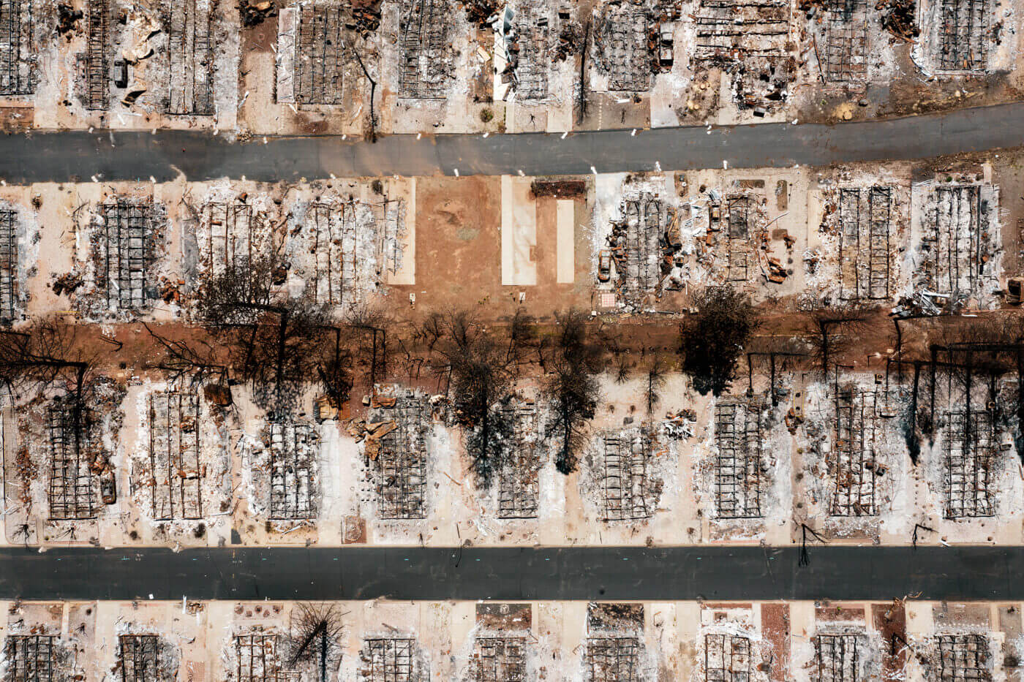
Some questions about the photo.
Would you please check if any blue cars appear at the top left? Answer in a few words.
No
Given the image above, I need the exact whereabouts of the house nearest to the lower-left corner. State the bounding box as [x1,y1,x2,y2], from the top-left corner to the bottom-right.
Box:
[5,634,64,682]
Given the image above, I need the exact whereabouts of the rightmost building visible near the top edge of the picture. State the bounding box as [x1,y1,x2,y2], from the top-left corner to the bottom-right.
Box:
[938,0,989,73]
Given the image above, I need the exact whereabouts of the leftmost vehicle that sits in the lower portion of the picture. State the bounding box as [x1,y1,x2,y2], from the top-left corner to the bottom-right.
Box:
[98,472,115,504]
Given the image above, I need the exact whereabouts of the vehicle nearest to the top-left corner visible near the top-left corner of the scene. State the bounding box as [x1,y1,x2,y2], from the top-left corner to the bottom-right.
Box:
[110,58,127,86]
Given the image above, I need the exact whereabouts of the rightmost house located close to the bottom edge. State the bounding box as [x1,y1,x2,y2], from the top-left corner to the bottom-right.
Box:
[927,633,988,682]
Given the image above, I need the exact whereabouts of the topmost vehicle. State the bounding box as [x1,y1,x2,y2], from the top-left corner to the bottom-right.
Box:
[661,21,675,63]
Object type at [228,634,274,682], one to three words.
house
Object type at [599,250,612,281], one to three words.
vehicle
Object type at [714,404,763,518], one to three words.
house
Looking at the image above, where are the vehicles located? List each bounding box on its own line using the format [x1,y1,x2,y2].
[98,472,115,504]
[661,21,675,63]
[110,58,127,86]
[1009,278,1024,303]
[599,250,612,281]
[709,202,723,231]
